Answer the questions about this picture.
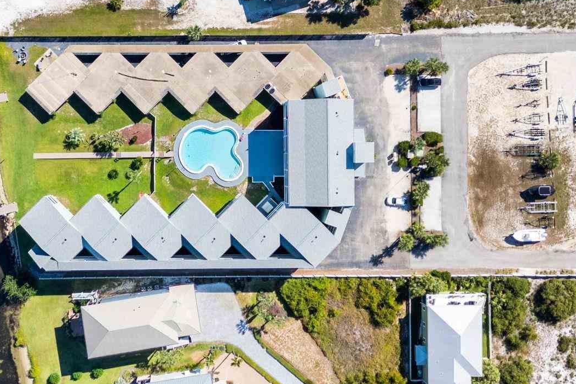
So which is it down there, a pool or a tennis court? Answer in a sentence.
Looking from above, you can make out a pool.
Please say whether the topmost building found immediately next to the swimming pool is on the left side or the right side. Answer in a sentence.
The topmost building found immediately next to the swimming pool appears in the left half of the scene.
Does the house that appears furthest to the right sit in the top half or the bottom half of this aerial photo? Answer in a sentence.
The house that appears furthest to the right is in the bottom half of the image.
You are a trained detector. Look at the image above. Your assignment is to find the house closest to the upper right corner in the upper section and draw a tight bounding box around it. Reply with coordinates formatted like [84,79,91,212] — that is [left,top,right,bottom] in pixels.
[319,74,354,98]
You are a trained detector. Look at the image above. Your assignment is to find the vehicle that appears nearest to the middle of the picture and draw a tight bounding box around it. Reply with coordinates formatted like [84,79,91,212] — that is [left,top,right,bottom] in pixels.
[387,196,411,208]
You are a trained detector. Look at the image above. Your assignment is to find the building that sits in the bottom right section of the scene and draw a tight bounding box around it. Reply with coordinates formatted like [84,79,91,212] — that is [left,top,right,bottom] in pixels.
[415,289,488,384]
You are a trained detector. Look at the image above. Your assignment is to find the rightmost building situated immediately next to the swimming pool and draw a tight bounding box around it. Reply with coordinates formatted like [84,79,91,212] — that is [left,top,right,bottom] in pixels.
[283,98,375,210]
